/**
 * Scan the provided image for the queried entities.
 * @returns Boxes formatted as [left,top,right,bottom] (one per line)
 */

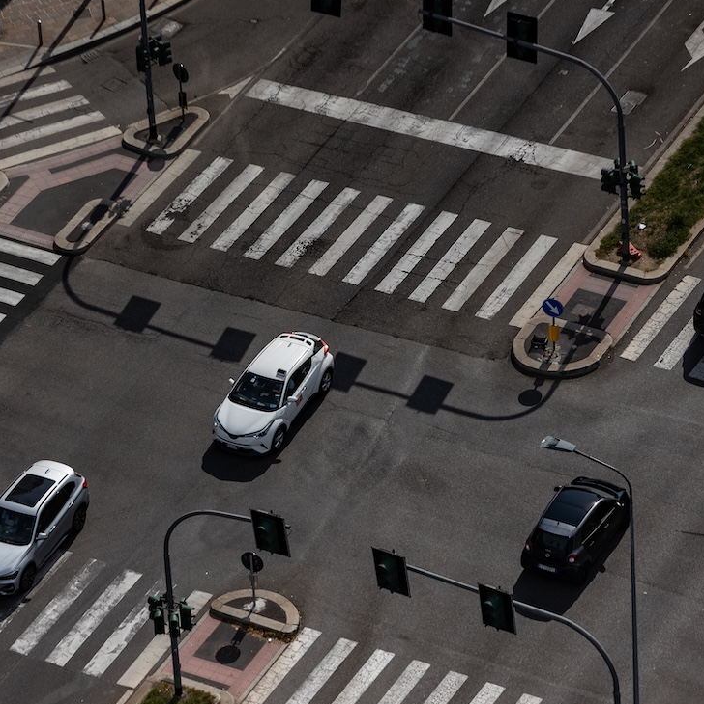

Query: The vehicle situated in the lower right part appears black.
[518,472,628,578]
